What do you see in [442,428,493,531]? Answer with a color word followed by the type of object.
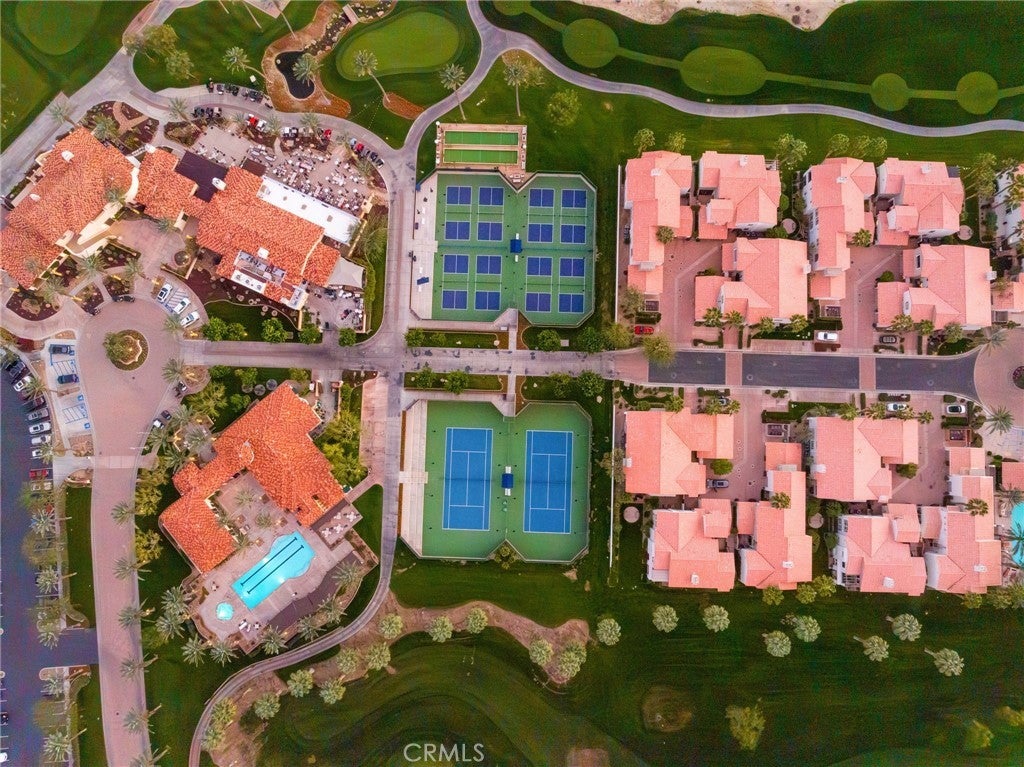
blue tennis court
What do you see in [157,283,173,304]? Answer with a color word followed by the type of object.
white car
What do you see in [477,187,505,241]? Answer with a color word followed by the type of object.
blue sports court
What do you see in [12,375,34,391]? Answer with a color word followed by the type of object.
white car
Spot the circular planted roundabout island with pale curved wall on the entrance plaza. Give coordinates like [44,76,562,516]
[103,327,149,371]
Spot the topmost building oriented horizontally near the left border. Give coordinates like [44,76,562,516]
[0,126,365,311]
